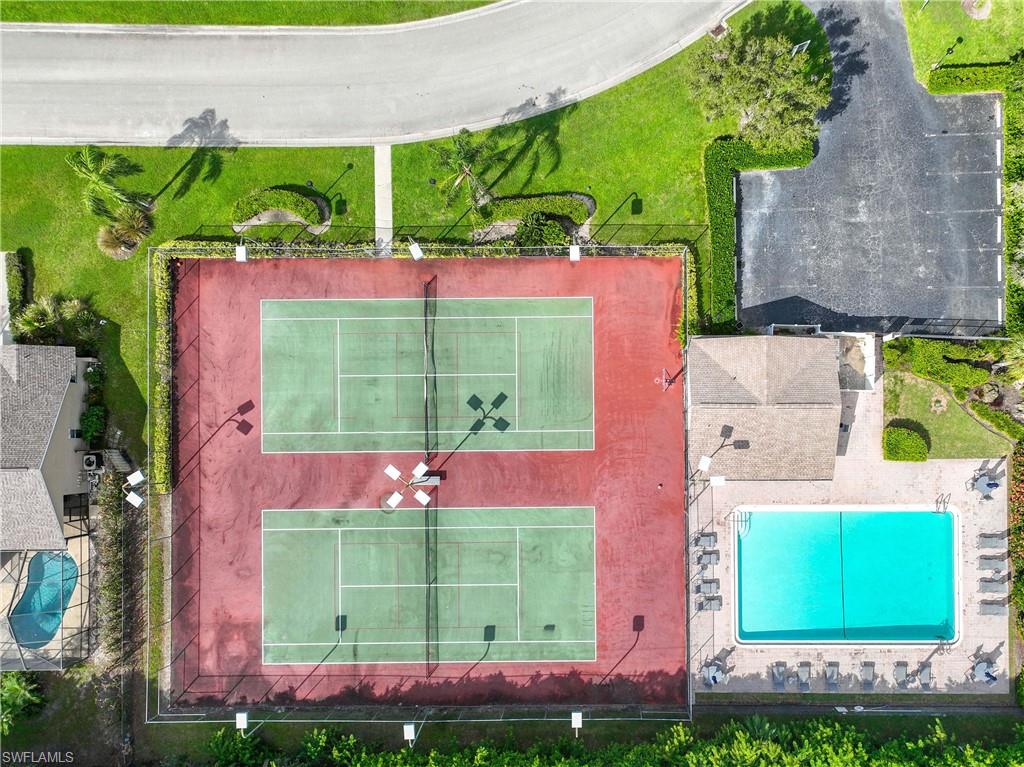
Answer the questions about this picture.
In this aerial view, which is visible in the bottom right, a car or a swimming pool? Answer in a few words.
swimming pool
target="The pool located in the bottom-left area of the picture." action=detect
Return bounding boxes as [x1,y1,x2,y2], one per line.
[7,550,78,651]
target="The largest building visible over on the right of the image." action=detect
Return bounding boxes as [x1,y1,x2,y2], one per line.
[688,332,840,481]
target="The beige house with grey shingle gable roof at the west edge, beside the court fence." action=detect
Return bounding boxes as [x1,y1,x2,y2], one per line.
[0,344,93,551]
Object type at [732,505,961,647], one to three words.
swimming pool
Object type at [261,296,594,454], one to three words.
tennis court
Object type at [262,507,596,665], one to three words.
tennis court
